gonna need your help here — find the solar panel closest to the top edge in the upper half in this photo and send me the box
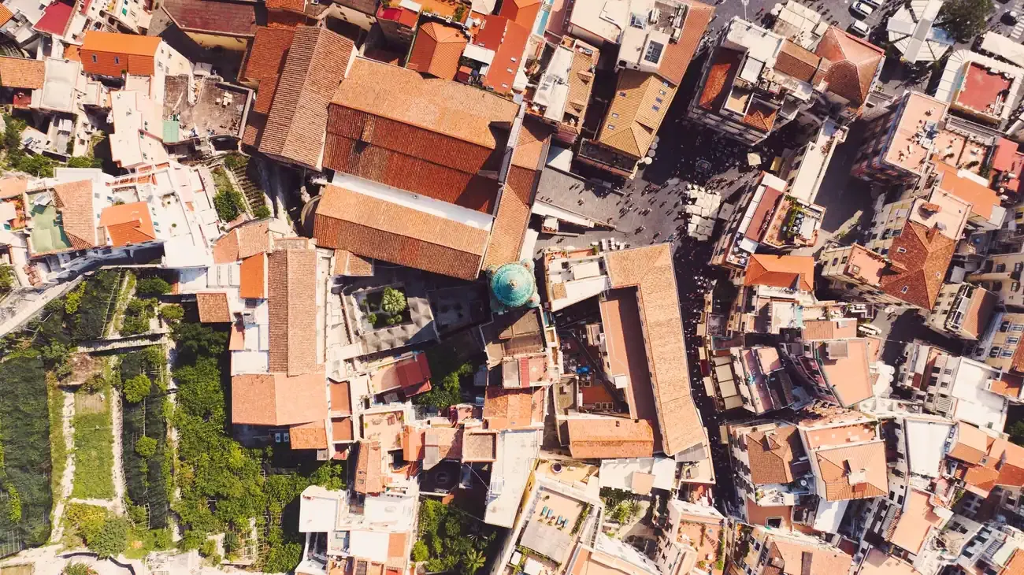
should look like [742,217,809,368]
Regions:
[647,40,663,62]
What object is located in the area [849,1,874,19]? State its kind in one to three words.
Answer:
car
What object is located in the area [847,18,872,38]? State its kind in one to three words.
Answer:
car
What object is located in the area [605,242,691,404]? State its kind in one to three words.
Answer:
building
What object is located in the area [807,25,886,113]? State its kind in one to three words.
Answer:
house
